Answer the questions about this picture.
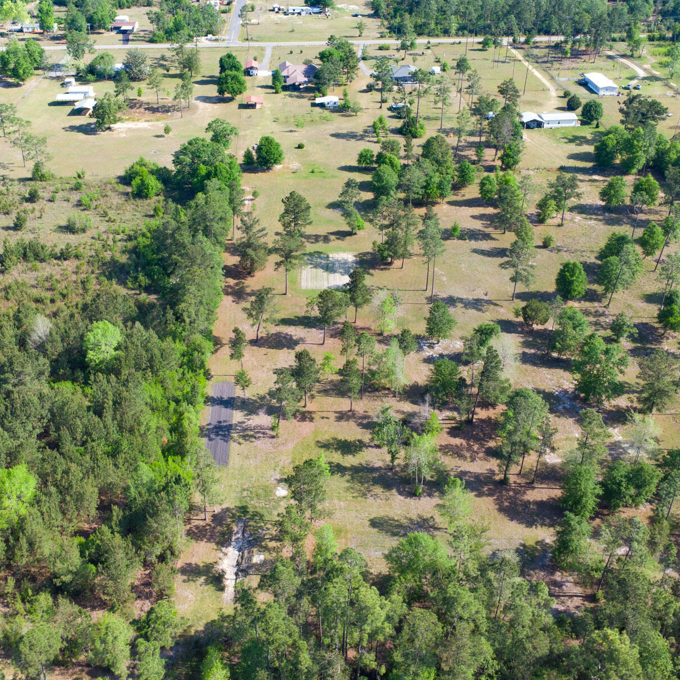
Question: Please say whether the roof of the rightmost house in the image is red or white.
white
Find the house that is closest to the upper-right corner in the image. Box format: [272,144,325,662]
[584,72,619,95]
